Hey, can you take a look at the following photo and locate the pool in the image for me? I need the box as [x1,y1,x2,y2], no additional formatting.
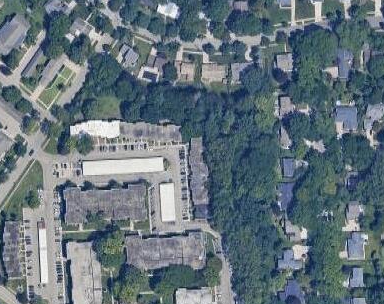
[140,66,160,83]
